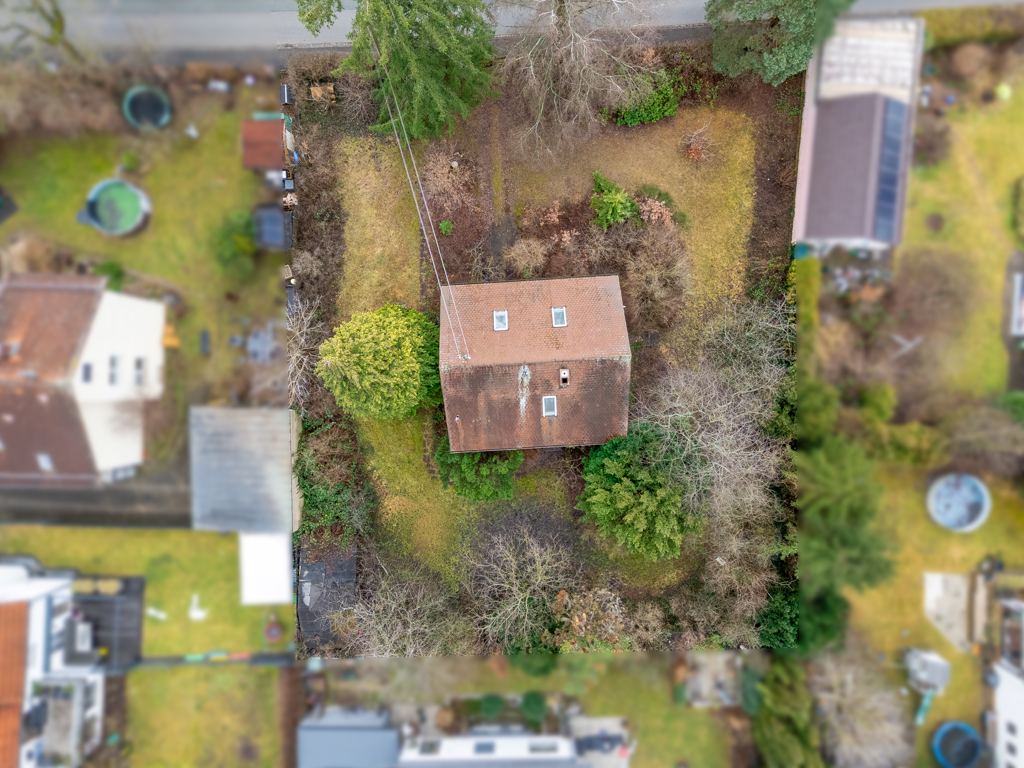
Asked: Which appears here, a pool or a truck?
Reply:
pool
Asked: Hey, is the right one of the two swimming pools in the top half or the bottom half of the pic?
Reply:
bottom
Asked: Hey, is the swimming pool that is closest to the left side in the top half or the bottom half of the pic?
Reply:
top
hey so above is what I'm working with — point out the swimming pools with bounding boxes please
[916,468,990,534]
[88,176,156,239]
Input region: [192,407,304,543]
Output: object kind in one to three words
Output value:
building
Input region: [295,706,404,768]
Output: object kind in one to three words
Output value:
building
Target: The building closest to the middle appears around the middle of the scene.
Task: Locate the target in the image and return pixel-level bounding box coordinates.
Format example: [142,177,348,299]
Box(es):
[440,272,633,451]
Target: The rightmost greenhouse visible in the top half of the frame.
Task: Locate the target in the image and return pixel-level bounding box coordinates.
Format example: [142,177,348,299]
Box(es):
[993,273,1024,336]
